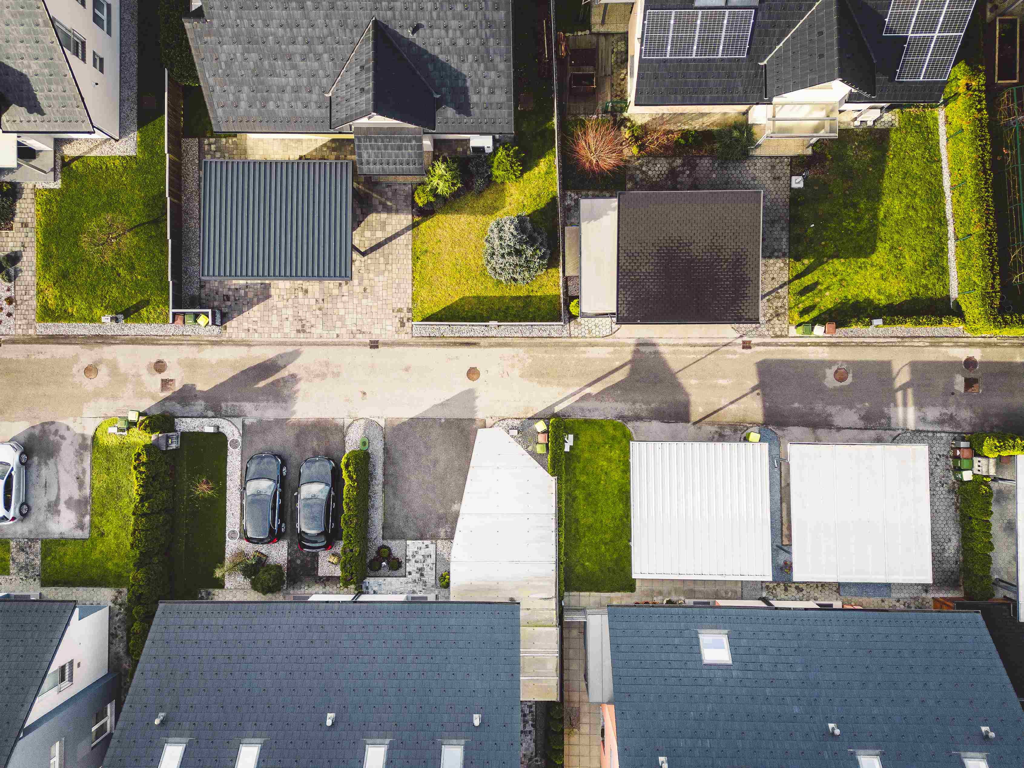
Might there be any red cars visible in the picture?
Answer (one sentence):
No, this view has no red car in it.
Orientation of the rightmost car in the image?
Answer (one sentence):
The rightmost car is laid out from top to bottom.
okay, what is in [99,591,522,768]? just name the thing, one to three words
house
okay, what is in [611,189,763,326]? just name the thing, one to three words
building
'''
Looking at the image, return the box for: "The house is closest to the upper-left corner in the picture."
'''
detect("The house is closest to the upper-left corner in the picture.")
[0,0,120,174]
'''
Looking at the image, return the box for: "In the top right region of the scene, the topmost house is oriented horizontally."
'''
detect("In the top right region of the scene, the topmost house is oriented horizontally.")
[628,0,983,144]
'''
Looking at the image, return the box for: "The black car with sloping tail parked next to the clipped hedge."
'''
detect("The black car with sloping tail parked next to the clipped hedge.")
[295,455,341,551]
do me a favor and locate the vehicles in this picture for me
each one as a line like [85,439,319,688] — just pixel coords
[0,441,32,526]
[240,452,289,545]
[295,455,341,551]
